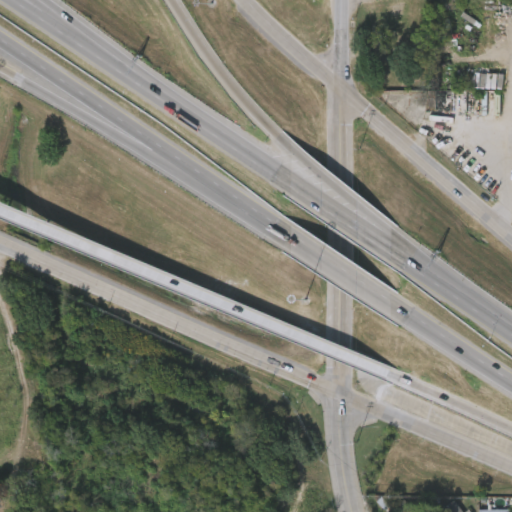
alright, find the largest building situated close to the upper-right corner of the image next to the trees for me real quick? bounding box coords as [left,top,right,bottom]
[476,74,506,90]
